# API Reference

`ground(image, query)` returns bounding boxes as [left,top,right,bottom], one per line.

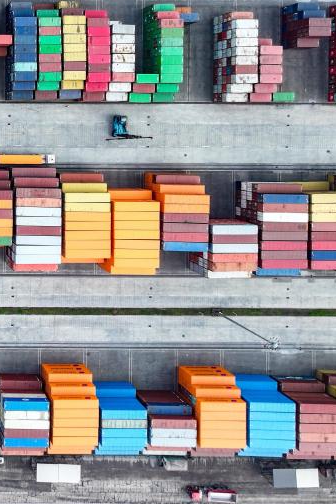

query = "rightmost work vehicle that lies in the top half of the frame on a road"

[105,111,154,142]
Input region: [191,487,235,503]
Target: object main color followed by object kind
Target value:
white vehicle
